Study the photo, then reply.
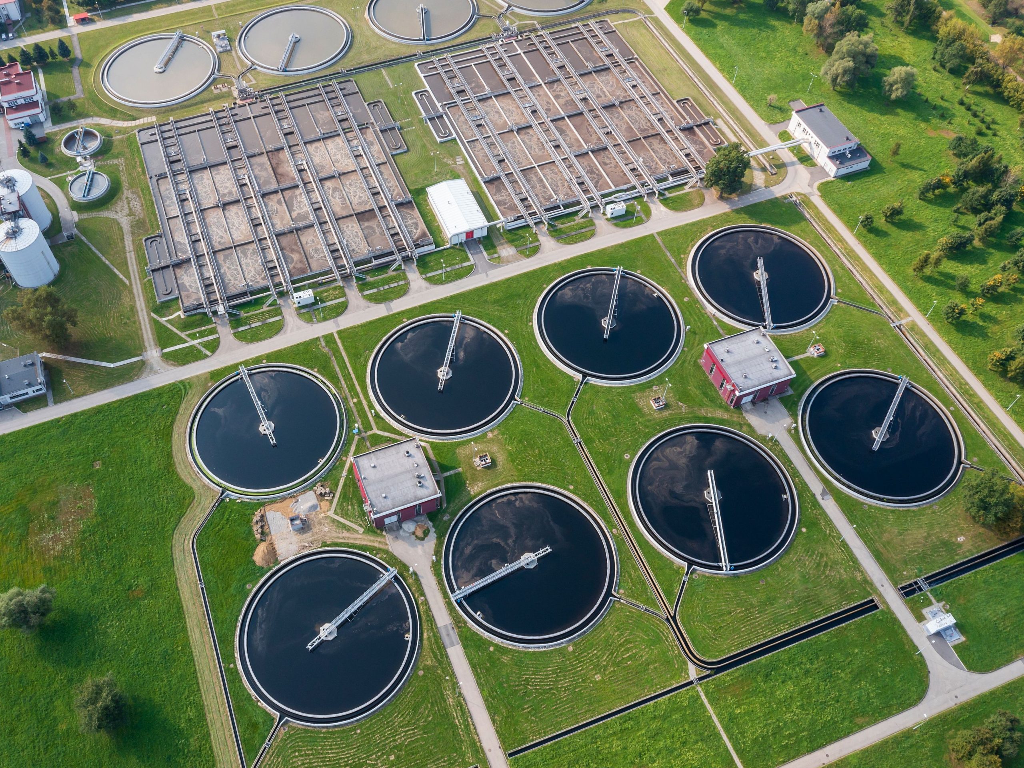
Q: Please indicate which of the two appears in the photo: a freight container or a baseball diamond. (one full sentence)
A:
Of the two, only a freight container appears.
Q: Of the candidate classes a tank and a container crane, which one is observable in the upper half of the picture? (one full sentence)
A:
There is a tank in the upper half of the picture.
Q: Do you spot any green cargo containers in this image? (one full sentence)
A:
No, I can see no green cargo container in this picture.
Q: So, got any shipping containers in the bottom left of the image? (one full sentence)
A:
No, no shipping container is visible in the bottom left of the image.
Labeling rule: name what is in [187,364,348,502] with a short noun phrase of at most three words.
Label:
storage tank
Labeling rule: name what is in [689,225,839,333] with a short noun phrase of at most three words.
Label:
storage tank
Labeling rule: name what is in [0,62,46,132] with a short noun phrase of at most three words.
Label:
building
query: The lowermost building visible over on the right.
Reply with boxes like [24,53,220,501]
[703,326,795,415]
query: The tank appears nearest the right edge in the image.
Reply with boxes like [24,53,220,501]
[798,369,972,508]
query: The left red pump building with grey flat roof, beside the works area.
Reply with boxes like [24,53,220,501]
[352,437,442,537]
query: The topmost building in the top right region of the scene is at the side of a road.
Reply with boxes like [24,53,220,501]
[788,102,872,179]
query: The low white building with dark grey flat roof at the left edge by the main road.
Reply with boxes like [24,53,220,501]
[0,353,51,414]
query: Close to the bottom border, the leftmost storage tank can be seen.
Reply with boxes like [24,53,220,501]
[236,547,421,731]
